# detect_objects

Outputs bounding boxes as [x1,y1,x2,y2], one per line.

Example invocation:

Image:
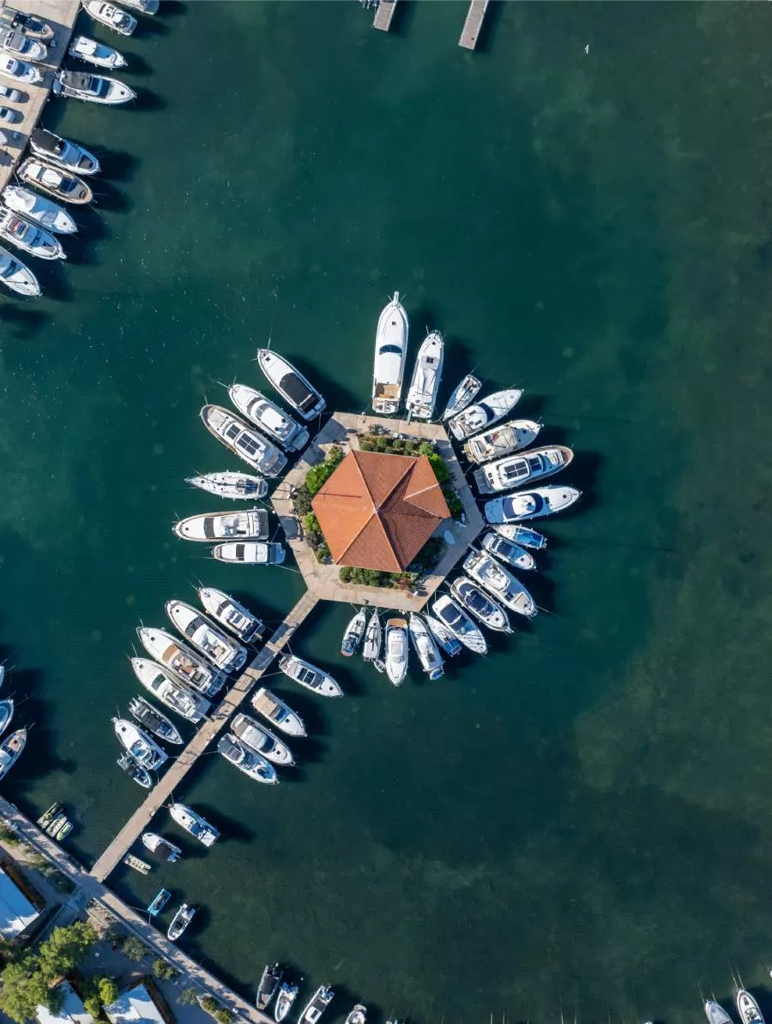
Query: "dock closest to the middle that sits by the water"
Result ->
[271,412,484,611]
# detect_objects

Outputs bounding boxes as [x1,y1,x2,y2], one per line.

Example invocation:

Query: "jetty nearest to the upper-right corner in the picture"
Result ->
[458,0,493,53]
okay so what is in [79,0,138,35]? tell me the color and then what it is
white boat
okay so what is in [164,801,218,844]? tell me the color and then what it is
white boat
